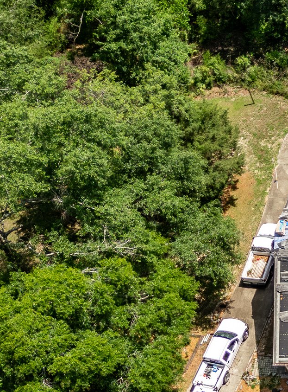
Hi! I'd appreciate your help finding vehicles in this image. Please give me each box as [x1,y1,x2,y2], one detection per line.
[242,225,277,290]
[191,316,244,392]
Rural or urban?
rural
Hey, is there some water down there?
No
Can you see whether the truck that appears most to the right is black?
No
